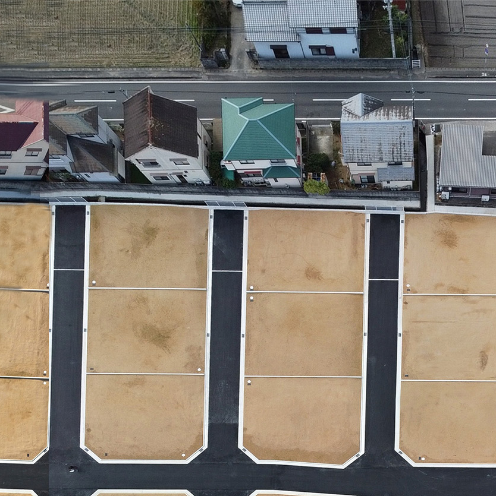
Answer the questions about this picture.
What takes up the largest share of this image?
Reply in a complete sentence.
For the most part, this view shows paved ground.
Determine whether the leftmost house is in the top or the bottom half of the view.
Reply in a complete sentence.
It is in the top half that the leftmost house appears.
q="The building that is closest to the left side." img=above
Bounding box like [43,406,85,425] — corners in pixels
[0,93,56,171]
